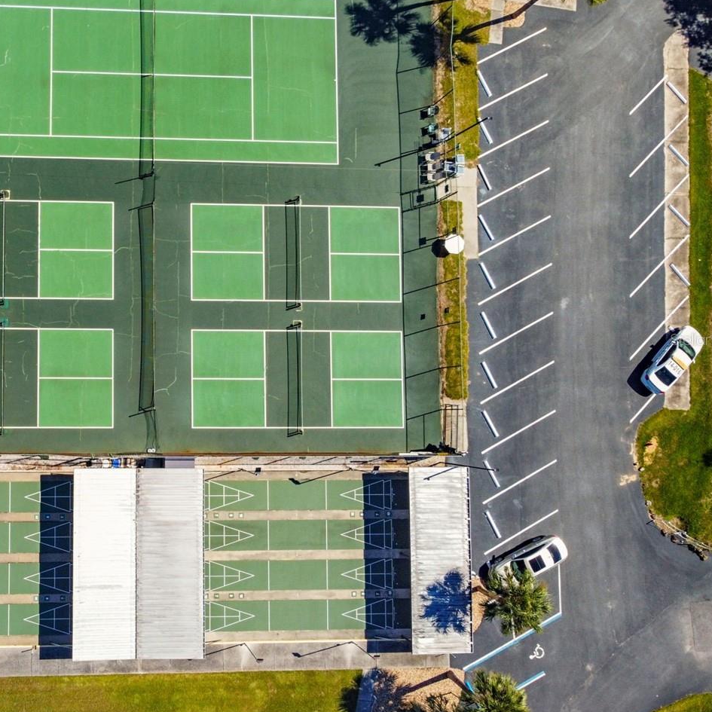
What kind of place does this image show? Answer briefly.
sports ground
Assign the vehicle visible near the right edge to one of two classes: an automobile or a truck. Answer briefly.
automobile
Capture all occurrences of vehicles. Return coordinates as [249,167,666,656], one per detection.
[491,534,567,583]
[643,327,701,394]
